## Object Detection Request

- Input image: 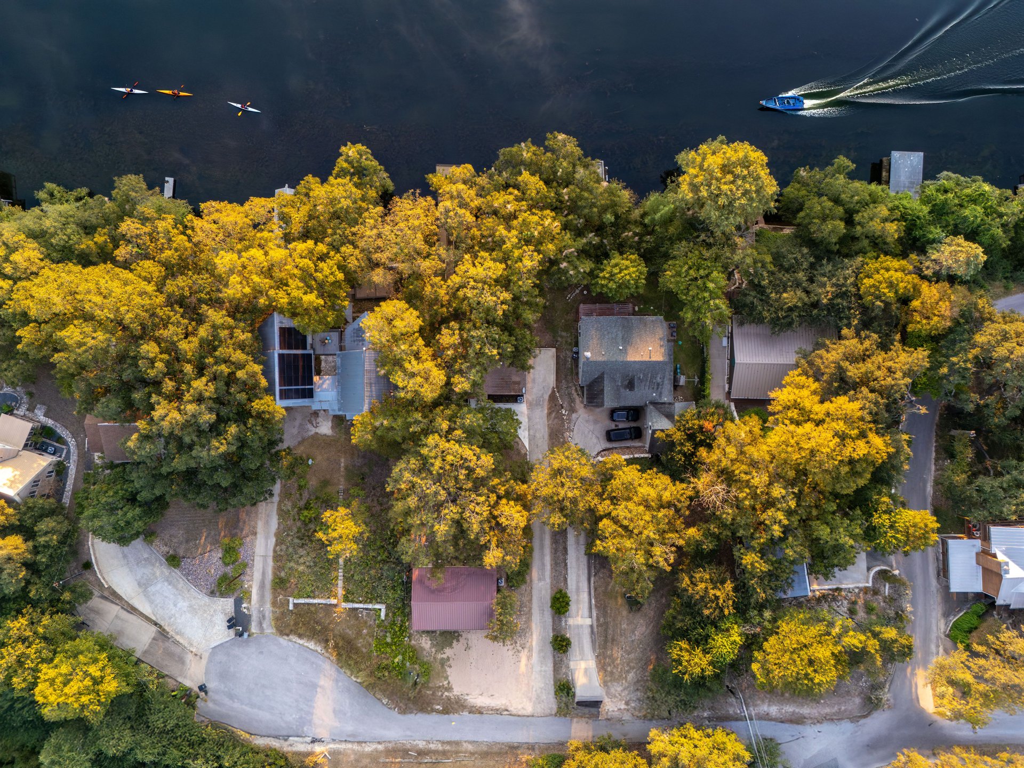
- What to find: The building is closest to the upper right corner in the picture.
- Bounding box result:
[876,151,924,206]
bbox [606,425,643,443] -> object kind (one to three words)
car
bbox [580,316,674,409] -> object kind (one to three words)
house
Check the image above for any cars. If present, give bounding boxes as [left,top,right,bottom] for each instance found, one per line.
[606,425,643,443]
[610,408,641,424]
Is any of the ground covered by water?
Yes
